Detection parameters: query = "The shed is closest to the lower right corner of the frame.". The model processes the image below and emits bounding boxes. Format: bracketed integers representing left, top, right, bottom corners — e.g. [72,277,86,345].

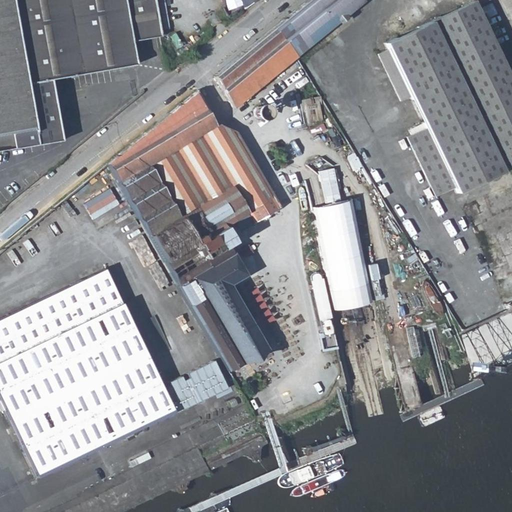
[406,325,426,358]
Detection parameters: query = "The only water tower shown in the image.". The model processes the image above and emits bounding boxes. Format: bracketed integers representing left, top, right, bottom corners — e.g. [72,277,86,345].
[254,104,277,120]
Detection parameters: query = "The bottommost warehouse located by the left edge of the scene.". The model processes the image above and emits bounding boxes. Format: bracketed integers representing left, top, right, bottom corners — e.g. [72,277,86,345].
[0,268,178,478]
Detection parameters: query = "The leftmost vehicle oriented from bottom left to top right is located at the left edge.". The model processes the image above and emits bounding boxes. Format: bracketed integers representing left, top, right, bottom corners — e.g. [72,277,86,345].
[0,210,34,242]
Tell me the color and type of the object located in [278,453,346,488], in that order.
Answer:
white boat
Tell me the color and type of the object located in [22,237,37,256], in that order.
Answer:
white vehicle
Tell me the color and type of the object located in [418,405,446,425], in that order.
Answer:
white boat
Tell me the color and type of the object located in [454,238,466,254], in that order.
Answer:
white vehicle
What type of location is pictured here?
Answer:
industrial area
